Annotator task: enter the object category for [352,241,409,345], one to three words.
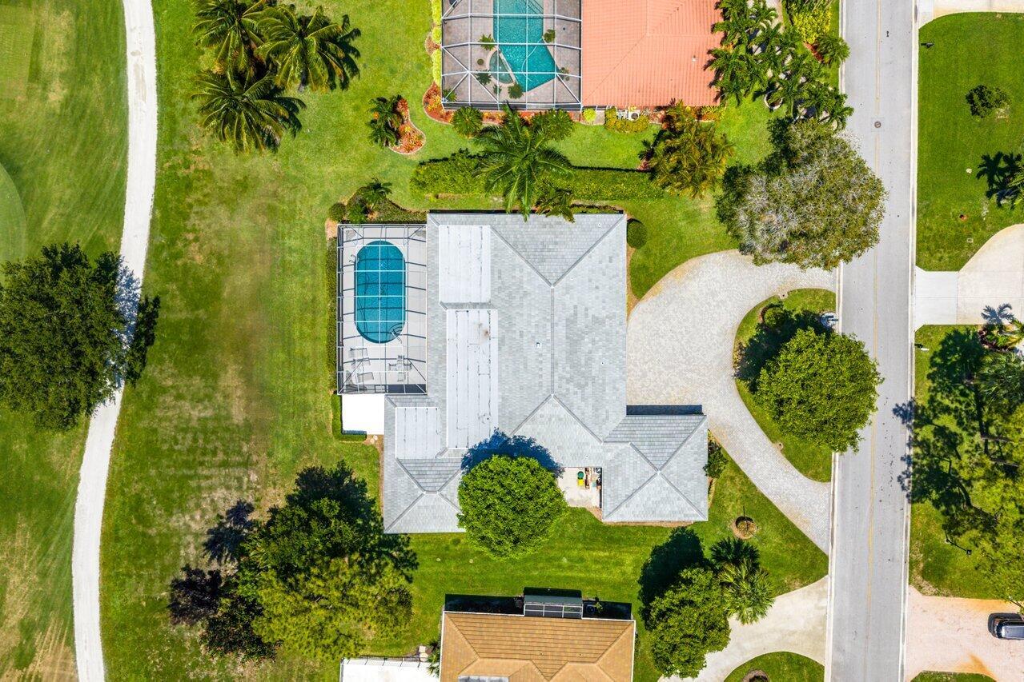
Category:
swimming pool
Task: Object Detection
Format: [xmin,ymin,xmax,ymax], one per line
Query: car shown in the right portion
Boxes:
[993,616,1024,640]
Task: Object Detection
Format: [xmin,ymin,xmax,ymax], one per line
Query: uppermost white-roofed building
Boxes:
[383,211,709,534]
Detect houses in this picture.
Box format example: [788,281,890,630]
[383,211,709,534]
[582,0,728,108]
[438,609,635,682]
